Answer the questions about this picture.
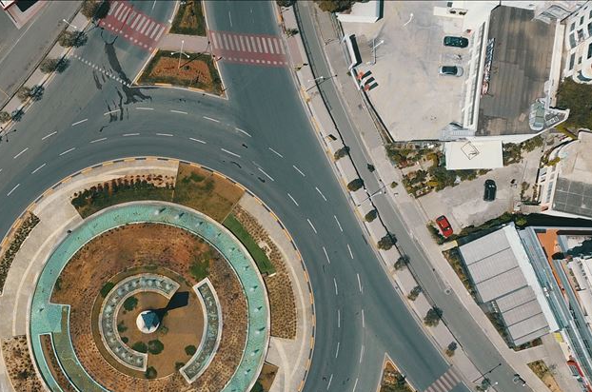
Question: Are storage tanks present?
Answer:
No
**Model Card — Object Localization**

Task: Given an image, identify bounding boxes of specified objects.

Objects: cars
[440,62,465,76]
[485,178,499,201]
[436,213,455,239]
[444,35,469,46]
